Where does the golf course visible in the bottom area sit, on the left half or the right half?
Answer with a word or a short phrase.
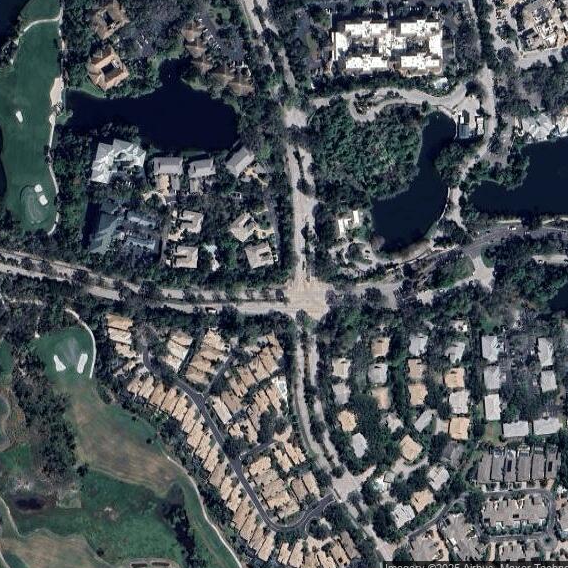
left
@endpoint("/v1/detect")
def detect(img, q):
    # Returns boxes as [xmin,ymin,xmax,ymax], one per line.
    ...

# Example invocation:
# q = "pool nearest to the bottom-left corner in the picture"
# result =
[271,376,289,416]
